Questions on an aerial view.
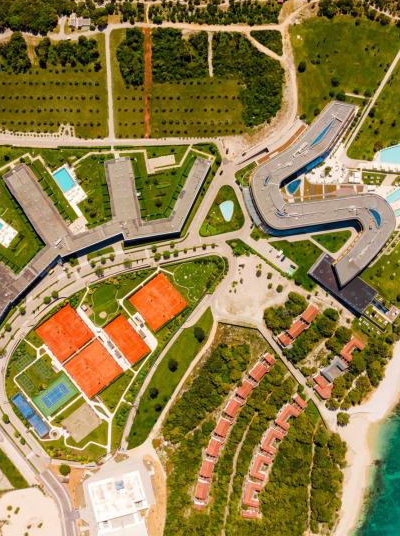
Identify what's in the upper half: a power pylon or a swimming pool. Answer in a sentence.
You can see a swimming pool in the upper half.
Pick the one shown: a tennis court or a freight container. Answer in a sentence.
The image shows a tennis court.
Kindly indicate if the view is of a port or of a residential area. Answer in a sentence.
What you see here is a residential area.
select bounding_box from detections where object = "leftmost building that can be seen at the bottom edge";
[88,466,149,536]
